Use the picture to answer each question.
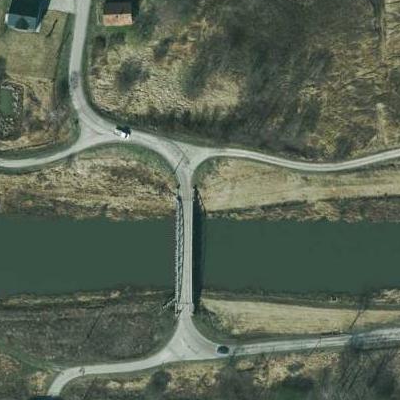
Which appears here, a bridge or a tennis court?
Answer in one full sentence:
Looking from above, you can make out a bridge.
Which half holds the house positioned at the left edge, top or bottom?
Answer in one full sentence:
The house positioned at the left edge is in the top half of the image.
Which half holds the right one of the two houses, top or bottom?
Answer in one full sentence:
The top half of the photo is where the right one of the two houses is.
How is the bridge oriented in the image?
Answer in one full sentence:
In this picture, the bridge lies from top to bottom.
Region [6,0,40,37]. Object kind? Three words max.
house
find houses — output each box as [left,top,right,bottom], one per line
[103,1,133,26]
[6,0,40,37]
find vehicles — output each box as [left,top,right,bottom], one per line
[115,129,129,139]
[217,347,230,353]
